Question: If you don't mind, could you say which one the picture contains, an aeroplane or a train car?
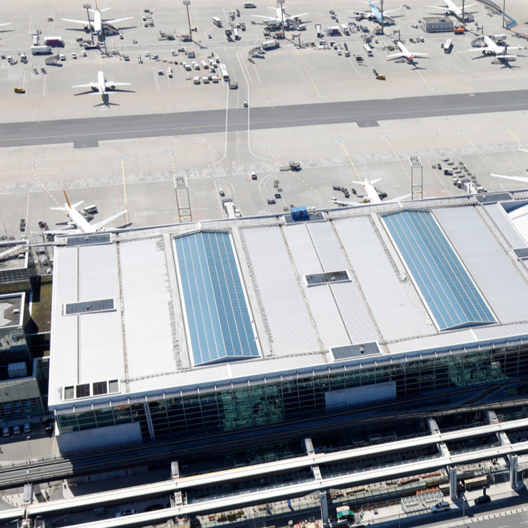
aeroplane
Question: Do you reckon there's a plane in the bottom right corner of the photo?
No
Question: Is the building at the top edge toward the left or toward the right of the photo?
right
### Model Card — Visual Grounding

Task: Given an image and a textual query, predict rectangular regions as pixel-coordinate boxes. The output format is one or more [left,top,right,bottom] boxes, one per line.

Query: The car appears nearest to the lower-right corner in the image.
[472,491,493,504]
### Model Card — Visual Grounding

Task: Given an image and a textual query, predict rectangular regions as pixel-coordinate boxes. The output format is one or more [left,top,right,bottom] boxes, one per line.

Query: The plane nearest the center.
[324,157,420,202]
